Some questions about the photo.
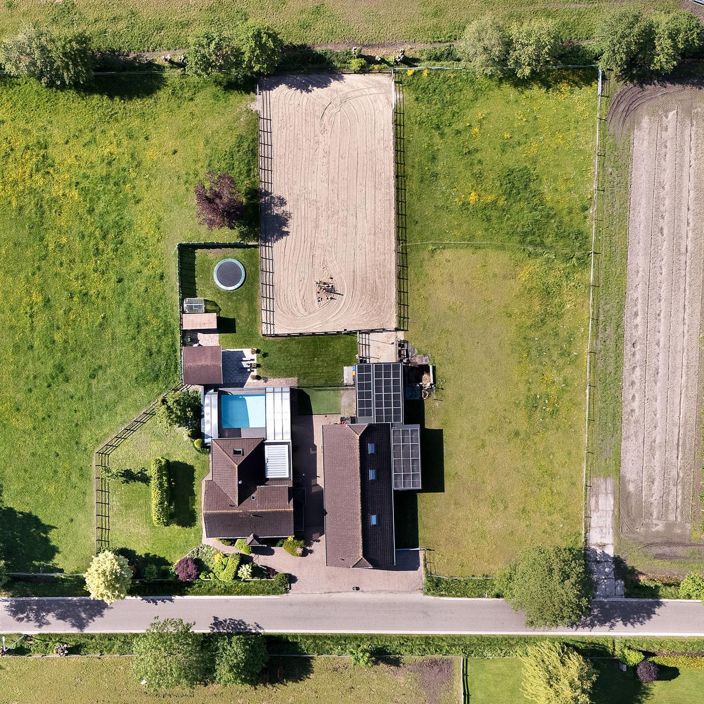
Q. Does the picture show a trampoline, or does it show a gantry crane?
trampoline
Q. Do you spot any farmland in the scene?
Yes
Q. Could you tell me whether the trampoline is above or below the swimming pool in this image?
above it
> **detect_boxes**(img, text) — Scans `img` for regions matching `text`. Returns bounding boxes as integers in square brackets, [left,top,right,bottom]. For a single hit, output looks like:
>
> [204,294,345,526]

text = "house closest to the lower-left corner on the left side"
[203,437,306,546]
